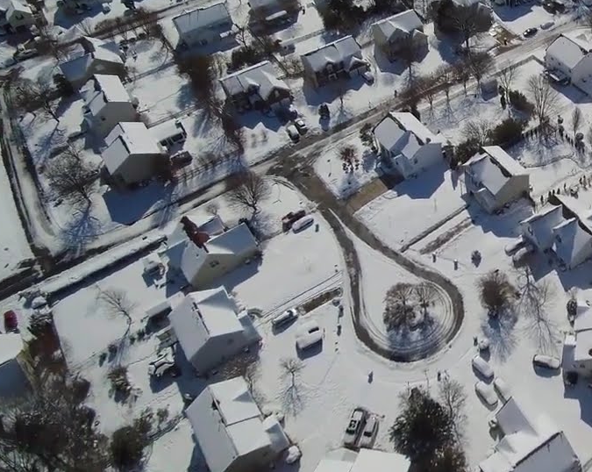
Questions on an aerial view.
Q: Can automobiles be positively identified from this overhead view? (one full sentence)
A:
Yes, an automobile appears in the view.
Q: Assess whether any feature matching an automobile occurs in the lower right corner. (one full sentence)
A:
Yes, an automobile shows up in the lower right corner.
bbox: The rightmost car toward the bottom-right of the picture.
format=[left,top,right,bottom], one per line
[533,355,559,370]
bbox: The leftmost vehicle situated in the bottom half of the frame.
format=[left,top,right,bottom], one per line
[4,309,19,330]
